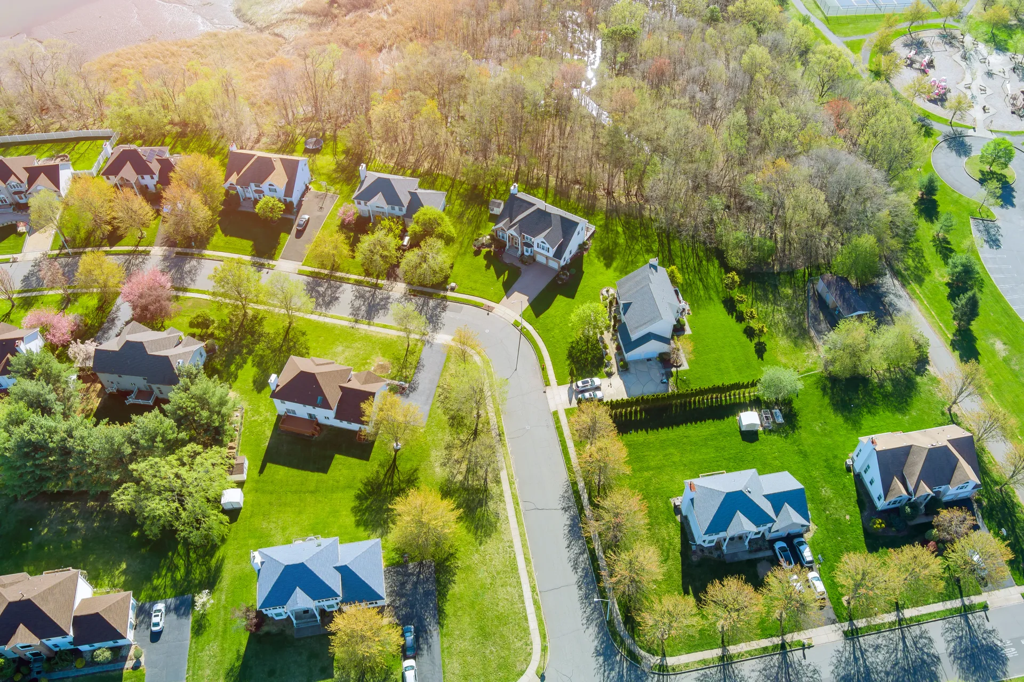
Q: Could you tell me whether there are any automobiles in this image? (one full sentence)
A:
Yes, you can see an automobile in this photo.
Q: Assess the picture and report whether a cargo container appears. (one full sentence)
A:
No, the photo shows no cargo container.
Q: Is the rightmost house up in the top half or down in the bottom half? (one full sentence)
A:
The rightmost house sits in the bottom half of the picture.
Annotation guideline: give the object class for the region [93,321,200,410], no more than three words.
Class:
house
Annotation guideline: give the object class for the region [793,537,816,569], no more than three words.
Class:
car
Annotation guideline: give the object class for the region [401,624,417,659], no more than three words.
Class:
car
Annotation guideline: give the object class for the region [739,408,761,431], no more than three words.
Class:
shed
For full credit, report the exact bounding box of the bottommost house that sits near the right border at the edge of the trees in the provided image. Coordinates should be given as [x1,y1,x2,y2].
[851,423,979,515]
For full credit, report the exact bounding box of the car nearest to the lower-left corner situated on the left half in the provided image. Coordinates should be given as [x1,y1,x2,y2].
[150,602,167,636]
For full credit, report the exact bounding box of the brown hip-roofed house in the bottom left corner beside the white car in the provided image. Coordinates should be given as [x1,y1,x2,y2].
[0,568,136,671]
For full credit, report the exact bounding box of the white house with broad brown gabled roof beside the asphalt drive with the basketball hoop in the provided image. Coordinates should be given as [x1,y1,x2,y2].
[216,140,307,209]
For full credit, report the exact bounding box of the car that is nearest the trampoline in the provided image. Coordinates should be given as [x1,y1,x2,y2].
[295,214,310,232]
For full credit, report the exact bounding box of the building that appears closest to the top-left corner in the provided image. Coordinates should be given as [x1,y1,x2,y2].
[0,154,71,210]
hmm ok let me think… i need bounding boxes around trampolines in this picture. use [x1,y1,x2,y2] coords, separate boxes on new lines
[302,134,323,150]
